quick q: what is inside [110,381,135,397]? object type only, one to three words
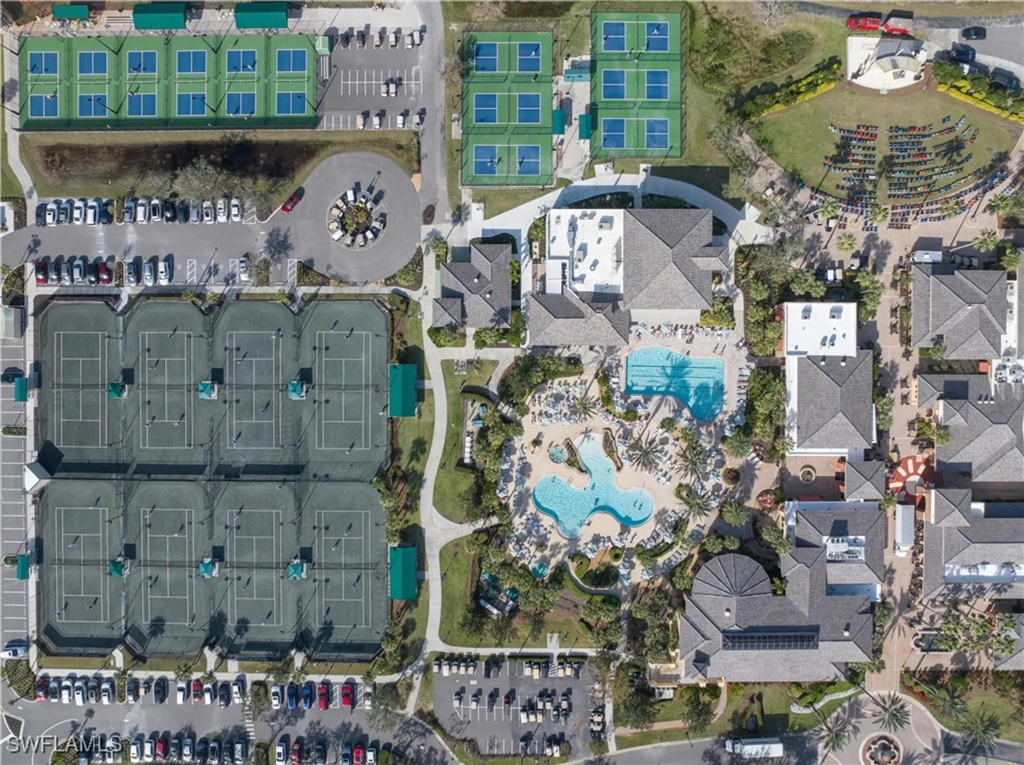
gazebo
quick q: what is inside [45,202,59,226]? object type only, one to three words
car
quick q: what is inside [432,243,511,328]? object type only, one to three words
building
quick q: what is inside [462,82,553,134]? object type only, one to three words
sports court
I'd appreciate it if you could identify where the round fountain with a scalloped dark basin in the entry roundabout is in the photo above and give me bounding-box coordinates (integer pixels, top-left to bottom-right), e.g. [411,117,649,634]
[860,732,905,765]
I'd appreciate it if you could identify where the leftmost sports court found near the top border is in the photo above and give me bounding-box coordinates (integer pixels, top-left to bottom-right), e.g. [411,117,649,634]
[19,35,68,125]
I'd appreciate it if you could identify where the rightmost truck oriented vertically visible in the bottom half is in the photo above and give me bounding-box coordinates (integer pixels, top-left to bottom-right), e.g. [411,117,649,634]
[892,504,915,556]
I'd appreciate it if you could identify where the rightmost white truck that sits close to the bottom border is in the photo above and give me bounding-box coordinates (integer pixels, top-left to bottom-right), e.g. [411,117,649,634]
[723,735,785,759]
